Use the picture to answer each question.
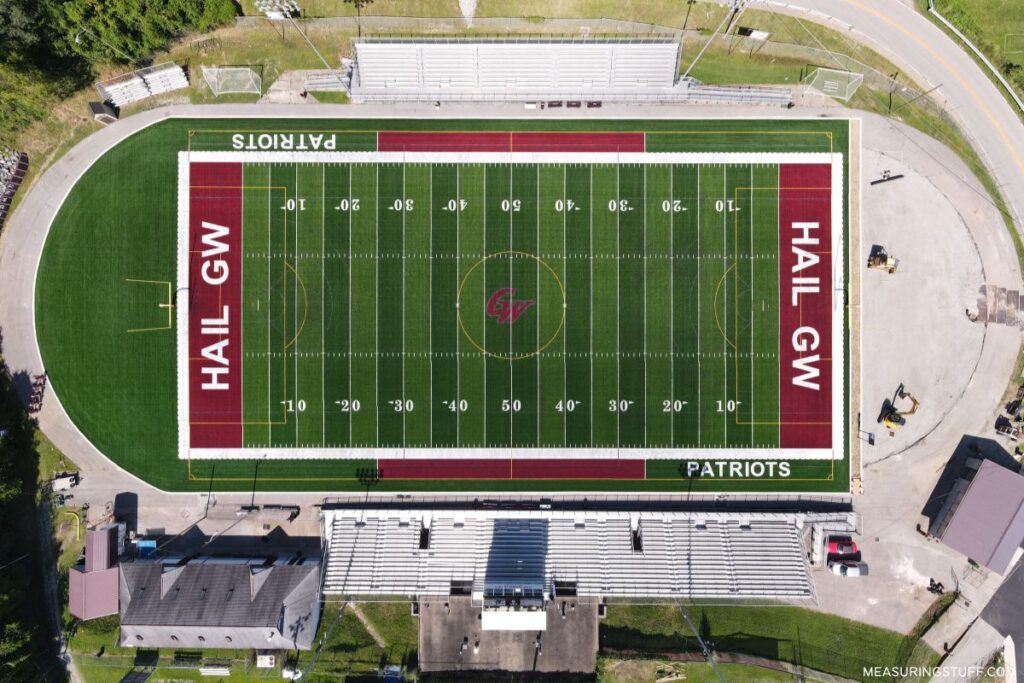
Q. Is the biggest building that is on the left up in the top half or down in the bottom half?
bottom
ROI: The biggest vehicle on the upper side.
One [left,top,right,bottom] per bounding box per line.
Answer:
[865,255,909,272]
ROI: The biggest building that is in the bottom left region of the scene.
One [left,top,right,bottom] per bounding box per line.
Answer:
[118,553,322,649]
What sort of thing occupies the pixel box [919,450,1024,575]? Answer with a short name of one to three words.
building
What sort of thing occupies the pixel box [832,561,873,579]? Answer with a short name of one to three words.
vehicle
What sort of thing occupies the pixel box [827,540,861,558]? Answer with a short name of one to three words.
car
